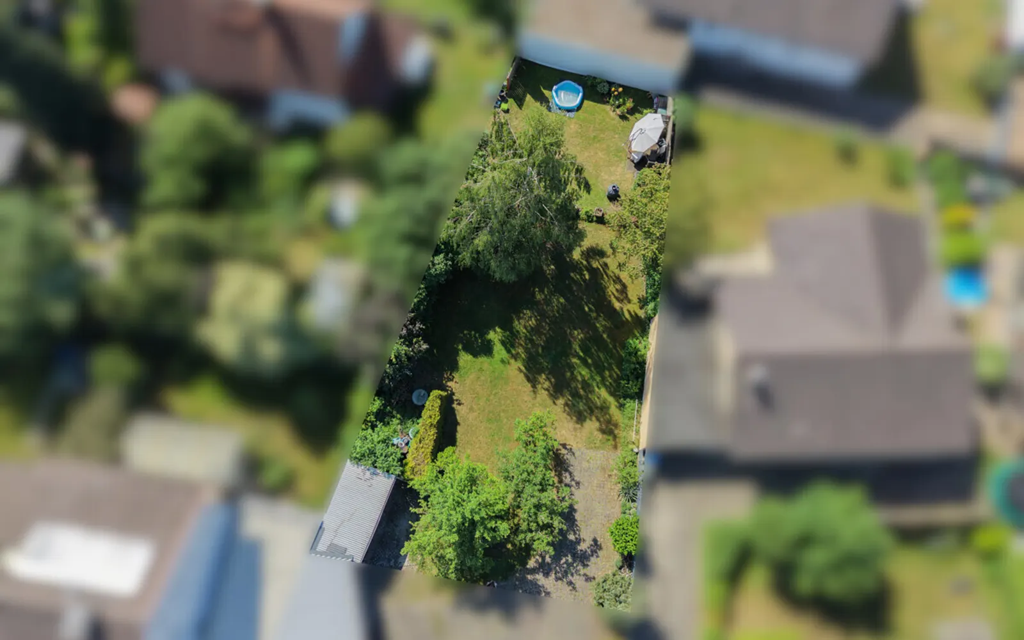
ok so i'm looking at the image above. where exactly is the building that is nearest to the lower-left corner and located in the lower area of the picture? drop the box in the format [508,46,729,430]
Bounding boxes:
[0,455,238,640]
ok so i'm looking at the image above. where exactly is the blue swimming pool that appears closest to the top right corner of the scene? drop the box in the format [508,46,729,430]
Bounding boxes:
[936,264,987,309]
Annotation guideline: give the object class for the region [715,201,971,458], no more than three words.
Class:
house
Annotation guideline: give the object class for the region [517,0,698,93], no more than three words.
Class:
shed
